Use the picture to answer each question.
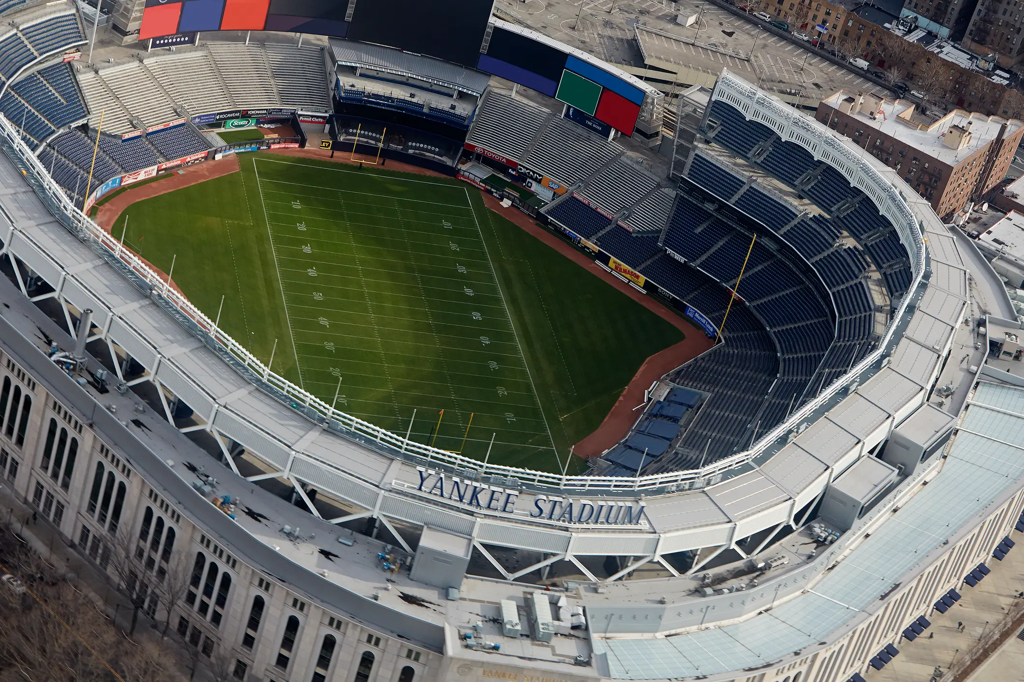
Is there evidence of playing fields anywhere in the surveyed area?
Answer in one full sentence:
Yes, you can see a playing field in this photo.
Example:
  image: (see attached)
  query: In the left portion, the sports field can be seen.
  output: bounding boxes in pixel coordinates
[111,151,684,487]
